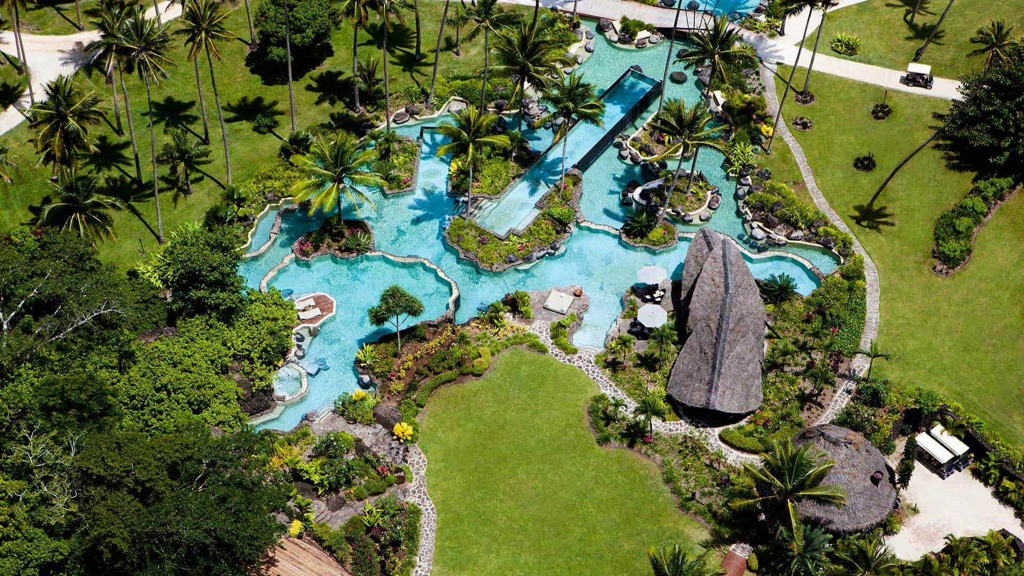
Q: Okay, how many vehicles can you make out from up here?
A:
3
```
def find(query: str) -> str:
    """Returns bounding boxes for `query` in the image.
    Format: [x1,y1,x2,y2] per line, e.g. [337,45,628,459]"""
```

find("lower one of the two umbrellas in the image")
[635,302,668,334]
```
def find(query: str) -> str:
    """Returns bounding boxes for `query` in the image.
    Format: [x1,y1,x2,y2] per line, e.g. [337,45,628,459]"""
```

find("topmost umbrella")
[636,262,668,293]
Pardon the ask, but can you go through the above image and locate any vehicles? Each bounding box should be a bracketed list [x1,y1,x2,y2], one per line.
[930,424,967,468]
[912,432,952,476]
[907,64,934,88]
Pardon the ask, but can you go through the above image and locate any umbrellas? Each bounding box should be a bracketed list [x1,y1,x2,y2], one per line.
[635,302,668,334]
[636,262,668,293]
